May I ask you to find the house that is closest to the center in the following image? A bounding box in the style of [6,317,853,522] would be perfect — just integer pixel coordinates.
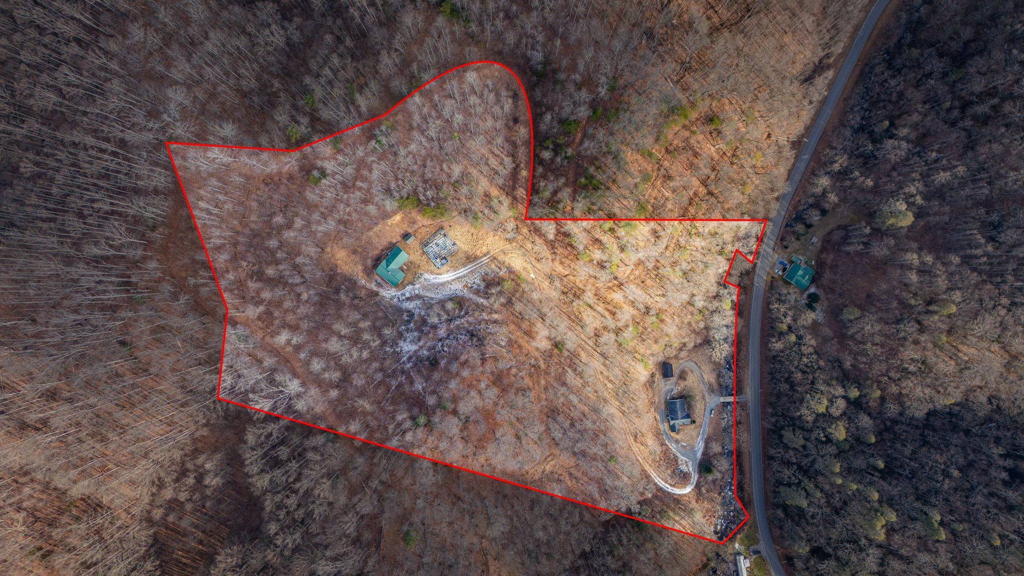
[421,227,460,269]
